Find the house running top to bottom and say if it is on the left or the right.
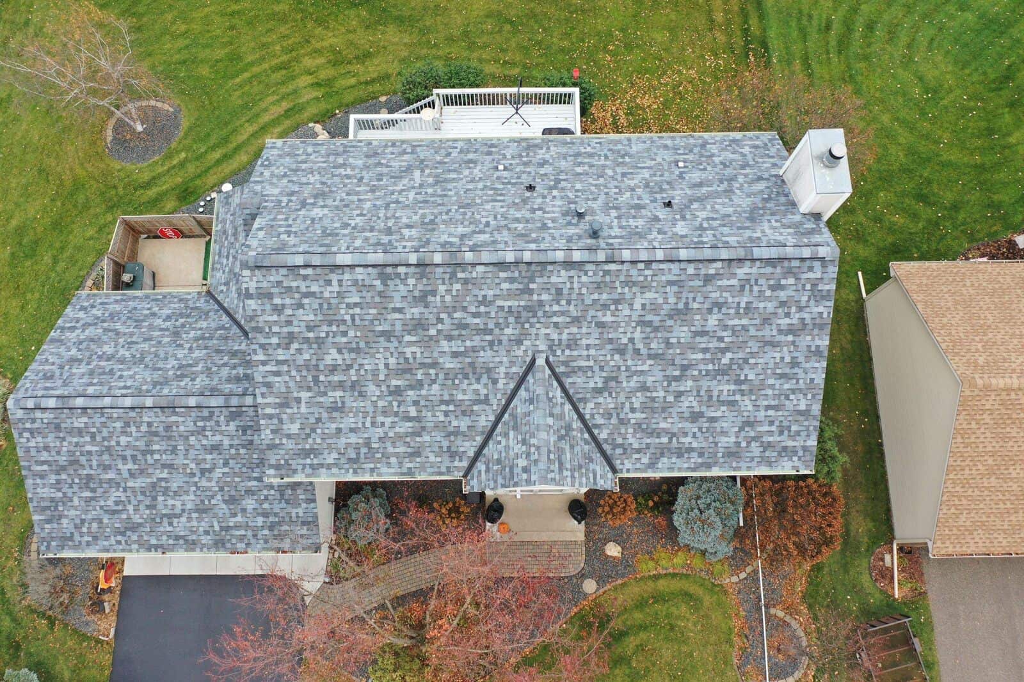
right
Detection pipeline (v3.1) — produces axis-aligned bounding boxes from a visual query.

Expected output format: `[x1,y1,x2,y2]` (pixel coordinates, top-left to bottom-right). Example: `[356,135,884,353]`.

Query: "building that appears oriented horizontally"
[8,129,853,557]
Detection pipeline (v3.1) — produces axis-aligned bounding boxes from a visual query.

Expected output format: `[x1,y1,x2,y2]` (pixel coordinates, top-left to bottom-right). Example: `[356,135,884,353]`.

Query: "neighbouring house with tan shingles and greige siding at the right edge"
[858,260,1024,596]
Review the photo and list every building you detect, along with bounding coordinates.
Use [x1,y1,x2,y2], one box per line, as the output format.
[858,260,1024,596]
[8,129,853,557]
